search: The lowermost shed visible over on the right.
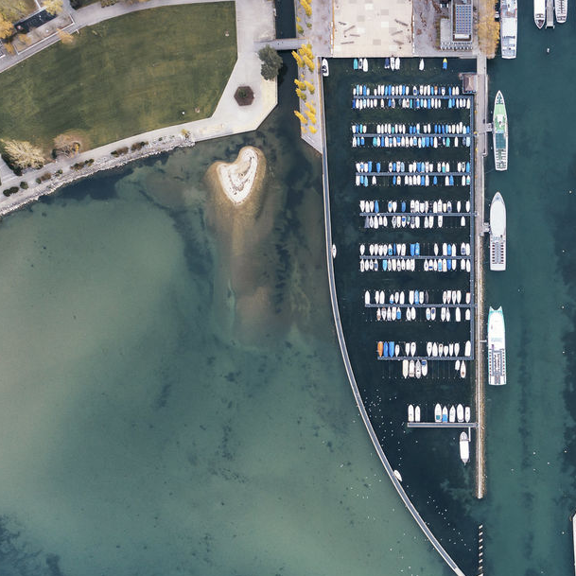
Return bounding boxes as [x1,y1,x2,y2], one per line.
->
[459,72,475,94]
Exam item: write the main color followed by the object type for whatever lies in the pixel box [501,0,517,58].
white ship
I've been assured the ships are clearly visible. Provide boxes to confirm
[534,0,545,29]
[501,0,517,58]
[491,192,506,270]
[494,91,508,170]
[555,0,567,22]
[488,306,506,386]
